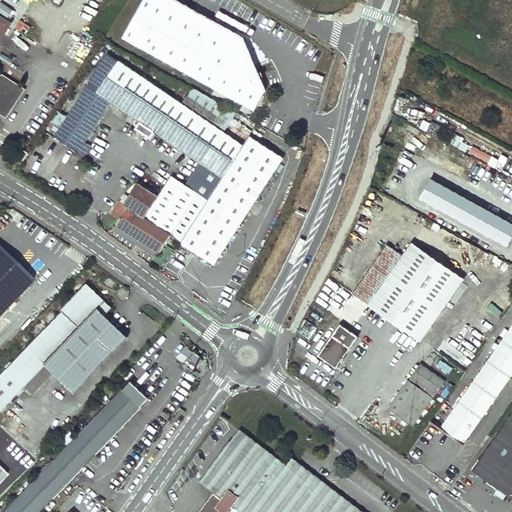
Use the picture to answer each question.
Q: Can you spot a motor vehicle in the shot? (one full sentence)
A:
Yes, the frame does contain a motor vehicle.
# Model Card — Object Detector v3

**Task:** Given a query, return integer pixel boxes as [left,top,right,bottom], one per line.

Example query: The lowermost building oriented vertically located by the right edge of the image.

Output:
[472,409,512,498]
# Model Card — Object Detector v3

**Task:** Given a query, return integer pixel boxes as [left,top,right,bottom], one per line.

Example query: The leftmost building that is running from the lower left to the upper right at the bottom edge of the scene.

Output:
[7,382,148,512]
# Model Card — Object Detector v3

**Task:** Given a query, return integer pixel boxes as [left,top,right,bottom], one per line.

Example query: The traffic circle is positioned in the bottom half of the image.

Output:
[214,325,288,396]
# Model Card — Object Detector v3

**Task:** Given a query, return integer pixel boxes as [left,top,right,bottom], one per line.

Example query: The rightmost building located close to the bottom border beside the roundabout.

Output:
[200,429,365,512]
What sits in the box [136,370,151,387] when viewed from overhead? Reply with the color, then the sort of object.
white vehicle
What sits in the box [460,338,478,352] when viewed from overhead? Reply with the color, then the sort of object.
white vehicle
